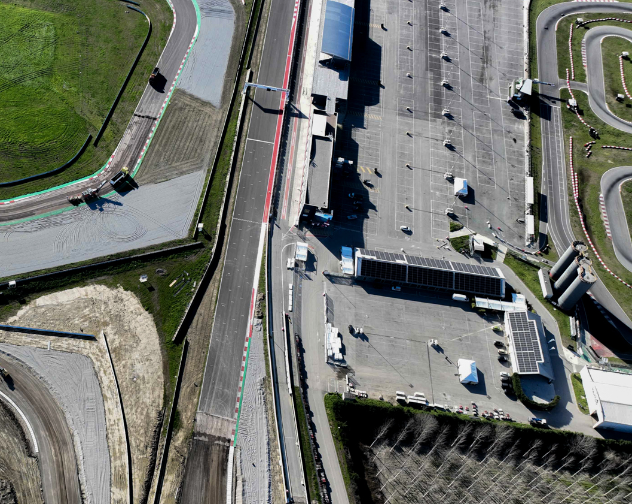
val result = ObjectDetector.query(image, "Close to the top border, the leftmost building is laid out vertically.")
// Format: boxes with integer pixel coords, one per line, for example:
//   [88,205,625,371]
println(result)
[310,0,354,118]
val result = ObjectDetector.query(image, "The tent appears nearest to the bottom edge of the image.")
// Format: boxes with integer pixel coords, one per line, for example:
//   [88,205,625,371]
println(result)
[457,359,478,386]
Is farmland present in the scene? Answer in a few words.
Yes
